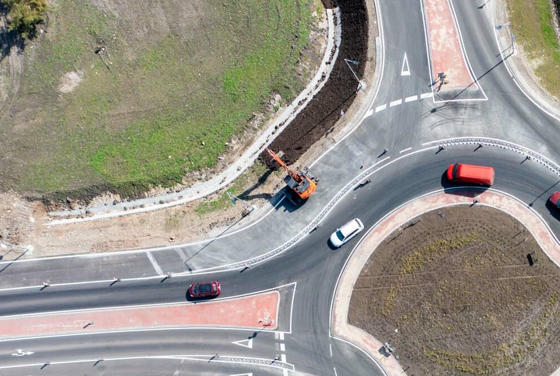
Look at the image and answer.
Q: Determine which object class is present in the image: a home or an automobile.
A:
automobile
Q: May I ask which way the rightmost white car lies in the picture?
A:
on a diagonal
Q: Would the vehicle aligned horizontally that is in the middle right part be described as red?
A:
Yes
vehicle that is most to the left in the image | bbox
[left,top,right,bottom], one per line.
[188,281,223,299]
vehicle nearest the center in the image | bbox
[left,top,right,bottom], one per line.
[270,150,324,206]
